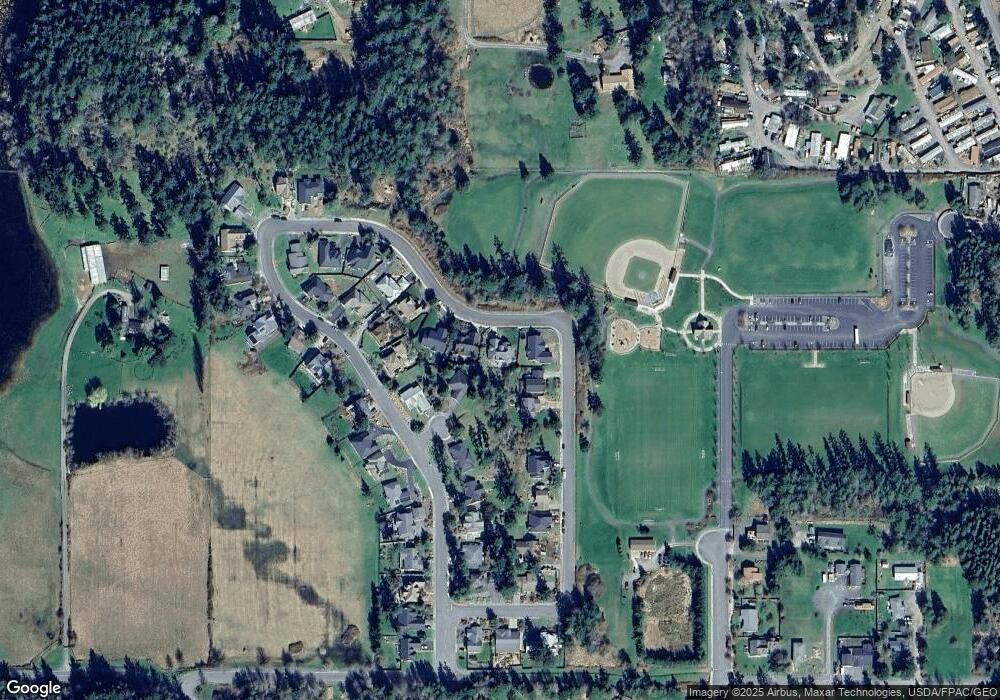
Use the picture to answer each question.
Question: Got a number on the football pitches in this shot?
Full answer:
The picture shows 3 football pitches.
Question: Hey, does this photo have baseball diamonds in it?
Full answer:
Yes, this view includes a baseball diamond.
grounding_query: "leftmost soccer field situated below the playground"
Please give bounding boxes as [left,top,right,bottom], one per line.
[604,354,713,523]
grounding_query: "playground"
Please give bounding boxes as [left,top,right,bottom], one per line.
[610,319,660,354]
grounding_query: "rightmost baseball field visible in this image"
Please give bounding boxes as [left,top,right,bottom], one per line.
[911,369,999,460]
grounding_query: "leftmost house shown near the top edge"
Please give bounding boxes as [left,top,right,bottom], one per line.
[289,9,316,30]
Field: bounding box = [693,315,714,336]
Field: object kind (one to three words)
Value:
building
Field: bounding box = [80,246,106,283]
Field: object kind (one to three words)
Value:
barn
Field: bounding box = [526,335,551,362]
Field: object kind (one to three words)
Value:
house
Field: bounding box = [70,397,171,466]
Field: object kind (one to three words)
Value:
pond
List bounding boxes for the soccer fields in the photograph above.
[714,185,871,293]
[741,353,887,446]
[604,354,713,523]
